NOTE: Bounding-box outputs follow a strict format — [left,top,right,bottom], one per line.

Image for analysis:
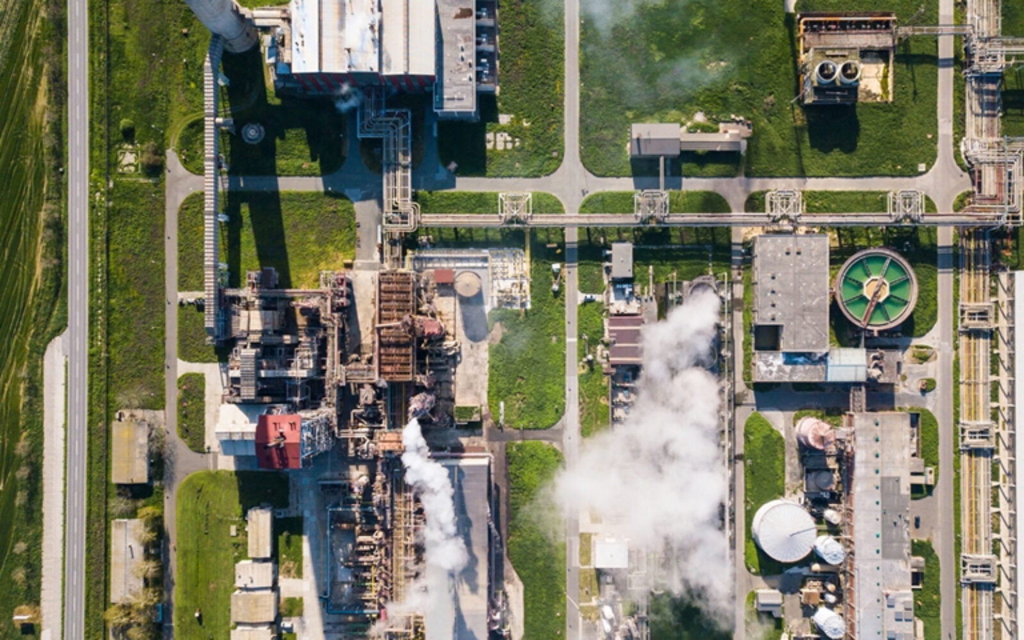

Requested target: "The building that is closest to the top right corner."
[795,13,897,98]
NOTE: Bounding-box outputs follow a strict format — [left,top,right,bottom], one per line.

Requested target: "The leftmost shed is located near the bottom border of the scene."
[11,604,44,625]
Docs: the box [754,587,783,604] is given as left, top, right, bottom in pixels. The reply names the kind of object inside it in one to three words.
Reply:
shed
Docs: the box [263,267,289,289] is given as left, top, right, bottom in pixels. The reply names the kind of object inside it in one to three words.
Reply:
house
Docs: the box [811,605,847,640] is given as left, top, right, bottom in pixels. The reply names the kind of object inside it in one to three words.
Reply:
silo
